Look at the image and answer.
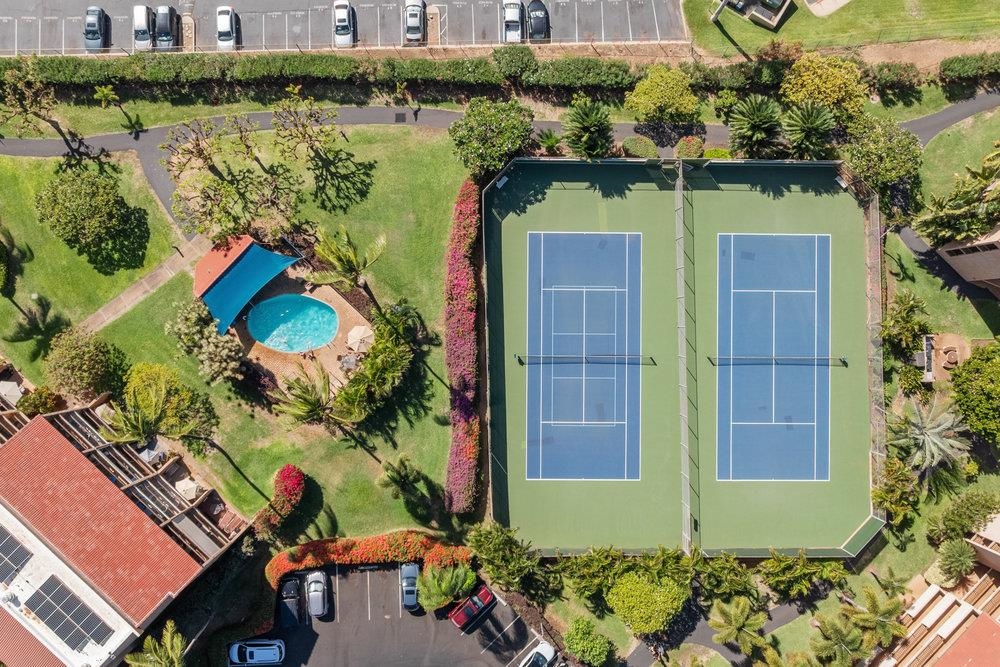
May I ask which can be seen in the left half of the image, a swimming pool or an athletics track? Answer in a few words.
swimming pool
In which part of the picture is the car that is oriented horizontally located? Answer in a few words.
bottom left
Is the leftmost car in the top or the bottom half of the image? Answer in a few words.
top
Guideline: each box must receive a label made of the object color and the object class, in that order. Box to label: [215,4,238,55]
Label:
white car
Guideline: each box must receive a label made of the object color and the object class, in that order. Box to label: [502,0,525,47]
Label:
white vehicle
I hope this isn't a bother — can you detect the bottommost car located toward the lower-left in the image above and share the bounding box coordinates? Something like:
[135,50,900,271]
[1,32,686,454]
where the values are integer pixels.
[231,640,285,666]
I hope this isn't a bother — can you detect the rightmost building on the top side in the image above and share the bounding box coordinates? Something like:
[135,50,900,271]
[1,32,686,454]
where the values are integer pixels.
[938,193,1000,300]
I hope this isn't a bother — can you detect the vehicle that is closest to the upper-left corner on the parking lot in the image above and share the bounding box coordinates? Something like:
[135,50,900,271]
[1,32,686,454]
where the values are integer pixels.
[82,4,108,55]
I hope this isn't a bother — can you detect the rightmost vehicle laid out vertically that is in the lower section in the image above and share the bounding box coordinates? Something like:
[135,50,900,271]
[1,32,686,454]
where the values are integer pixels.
[399,562,421,610]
